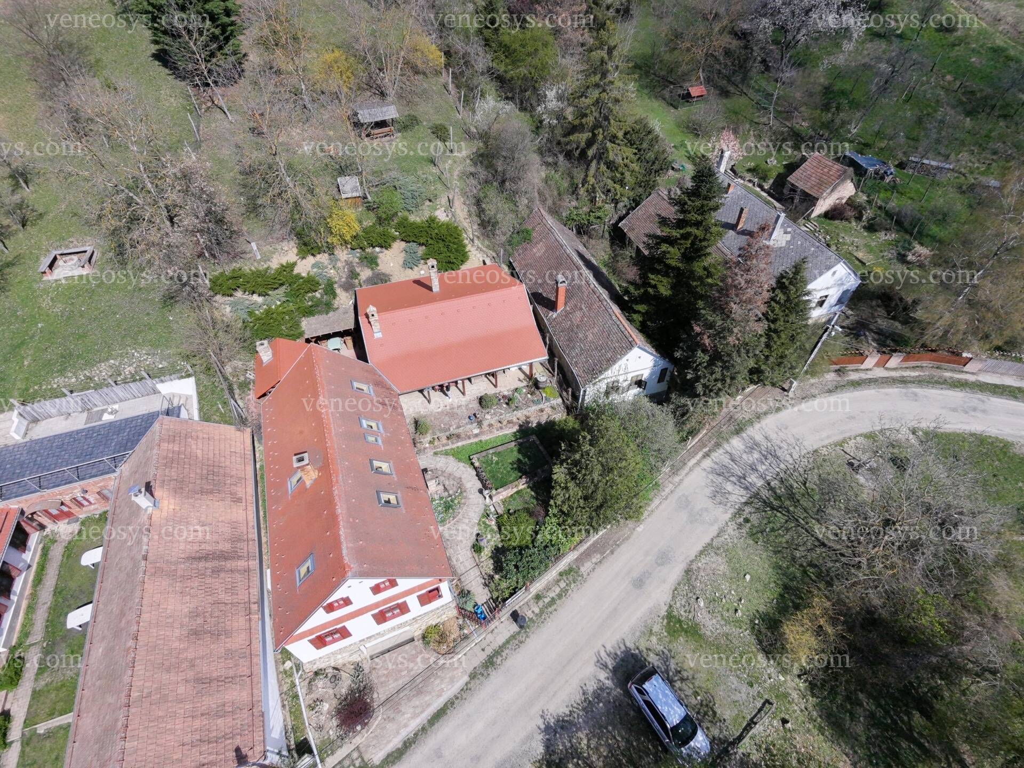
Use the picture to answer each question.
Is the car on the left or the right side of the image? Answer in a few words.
right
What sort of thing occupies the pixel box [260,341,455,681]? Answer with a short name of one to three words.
house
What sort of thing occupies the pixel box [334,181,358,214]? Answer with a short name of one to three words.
shed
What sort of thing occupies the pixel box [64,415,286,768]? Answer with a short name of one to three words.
house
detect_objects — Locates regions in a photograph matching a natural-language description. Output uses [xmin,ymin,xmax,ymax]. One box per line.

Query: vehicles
[628,662,720,768]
